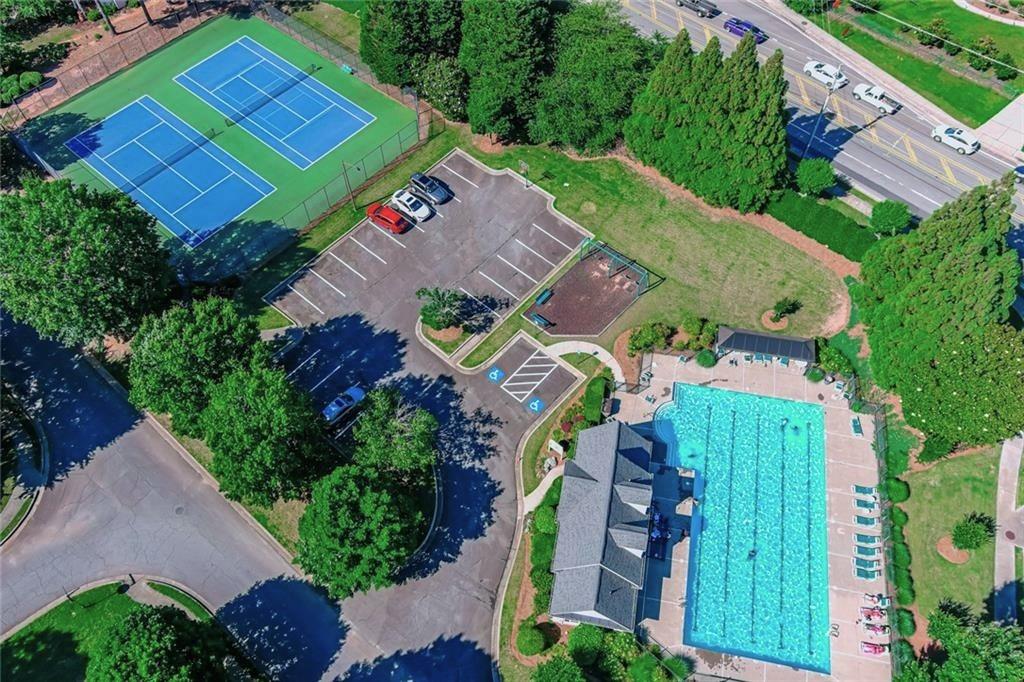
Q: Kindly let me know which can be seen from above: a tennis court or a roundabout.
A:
tennis court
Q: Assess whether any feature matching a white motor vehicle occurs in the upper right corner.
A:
Yes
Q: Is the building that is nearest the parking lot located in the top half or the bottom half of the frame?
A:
bottom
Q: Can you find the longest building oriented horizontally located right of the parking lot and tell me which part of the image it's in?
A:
right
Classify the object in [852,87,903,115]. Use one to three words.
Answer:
truck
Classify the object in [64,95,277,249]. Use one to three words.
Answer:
tennis court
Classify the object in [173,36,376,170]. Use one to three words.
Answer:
tennis court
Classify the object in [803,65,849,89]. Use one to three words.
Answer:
car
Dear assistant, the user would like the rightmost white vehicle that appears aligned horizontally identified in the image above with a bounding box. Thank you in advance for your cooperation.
[931,129,981,155]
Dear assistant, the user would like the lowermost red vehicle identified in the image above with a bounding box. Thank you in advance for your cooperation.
[366,206,410,234]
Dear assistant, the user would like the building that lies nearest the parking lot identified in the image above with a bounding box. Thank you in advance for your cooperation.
[547,419,656,636]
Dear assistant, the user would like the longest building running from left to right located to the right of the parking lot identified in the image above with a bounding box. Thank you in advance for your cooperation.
[716,325,815,374]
